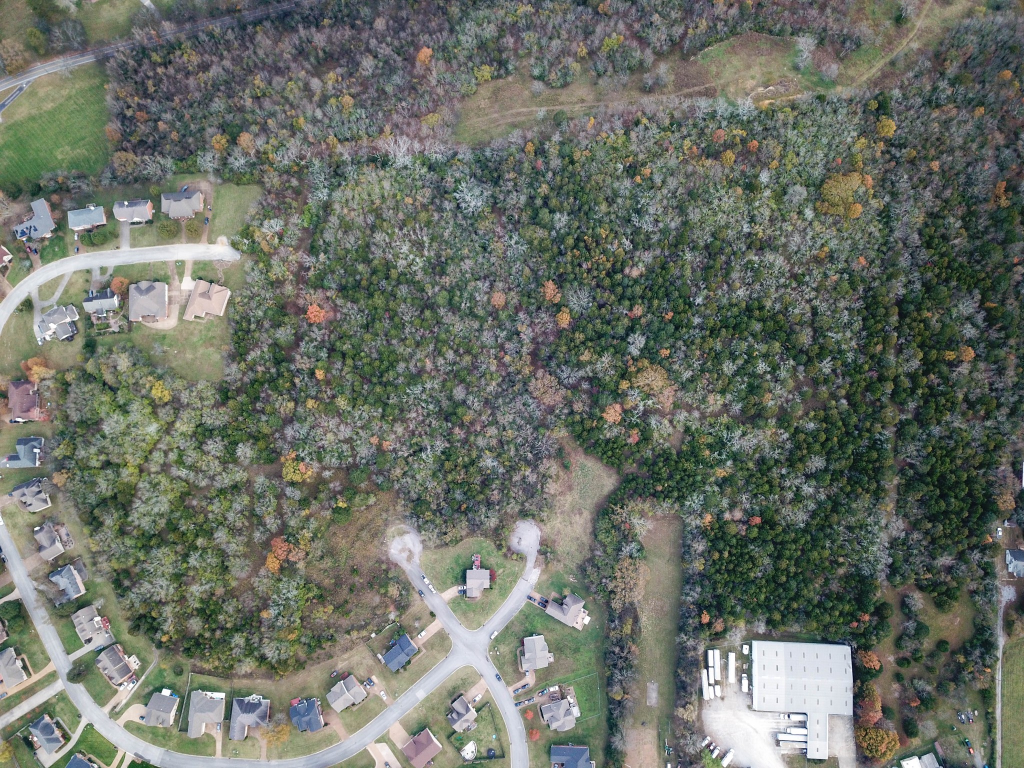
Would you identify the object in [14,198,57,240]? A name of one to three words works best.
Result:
house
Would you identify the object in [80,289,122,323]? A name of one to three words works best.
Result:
house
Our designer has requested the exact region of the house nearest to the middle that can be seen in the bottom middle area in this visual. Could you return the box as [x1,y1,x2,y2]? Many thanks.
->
[466,554,490,597]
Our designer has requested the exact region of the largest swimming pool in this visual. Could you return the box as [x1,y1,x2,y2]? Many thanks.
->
[460,740,477,760]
